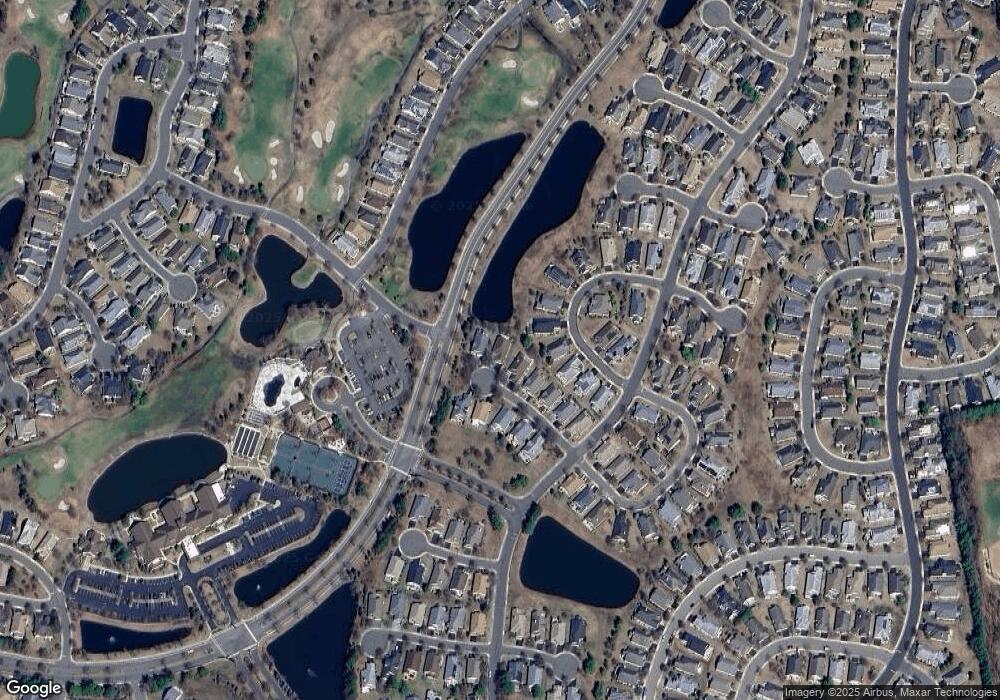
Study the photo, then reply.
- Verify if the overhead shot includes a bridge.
No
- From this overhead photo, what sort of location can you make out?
residential area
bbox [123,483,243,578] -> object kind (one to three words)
building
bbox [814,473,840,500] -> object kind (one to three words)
house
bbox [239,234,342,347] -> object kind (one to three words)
pond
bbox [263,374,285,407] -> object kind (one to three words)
swimming pool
